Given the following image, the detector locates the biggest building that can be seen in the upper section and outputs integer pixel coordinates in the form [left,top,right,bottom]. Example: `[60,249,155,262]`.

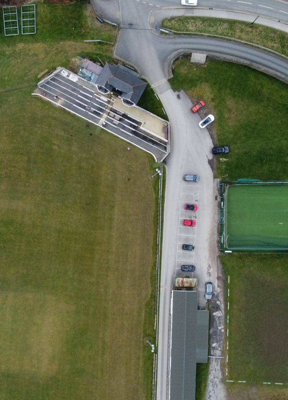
[96,62,148,108]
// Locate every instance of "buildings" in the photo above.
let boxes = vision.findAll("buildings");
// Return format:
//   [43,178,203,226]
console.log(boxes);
[96,62,148,108]
[188,53,207,66]
[168,290,209,400]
